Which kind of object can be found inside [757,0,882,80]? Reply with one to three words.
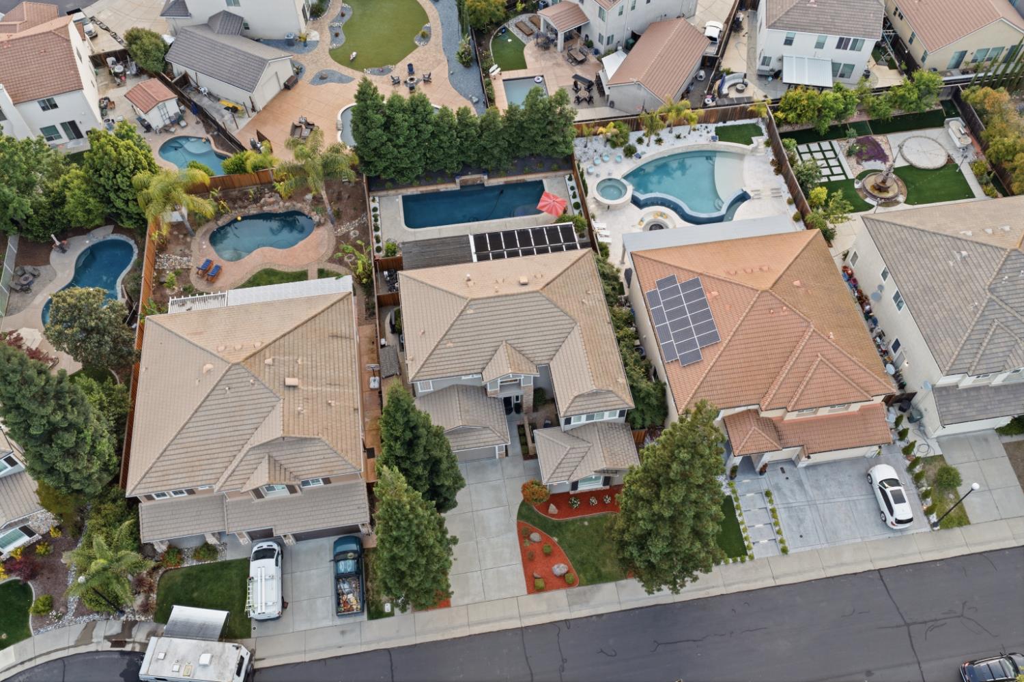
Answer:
house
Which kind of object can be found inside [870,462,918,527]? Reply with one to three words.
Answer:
car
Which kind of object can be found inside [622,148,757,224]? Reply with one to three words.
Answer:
swimming pool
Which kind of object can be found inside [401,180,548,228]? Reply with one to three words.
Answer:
swimming pool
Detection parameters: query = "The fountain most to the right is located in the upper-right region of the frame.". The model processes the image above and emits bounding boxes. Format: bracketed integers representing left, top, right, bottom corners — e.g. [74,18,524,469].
[865,161,905,202]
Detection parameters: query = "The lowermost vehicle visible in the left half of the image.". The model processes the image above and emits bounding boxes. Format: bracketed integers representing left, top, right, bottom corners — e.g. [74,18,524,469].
[140,605,258,682]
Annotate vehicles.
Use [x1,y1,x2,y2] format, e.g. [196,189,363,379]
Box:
[140,605,258,682]
[964,650,1024,682]
[327,533,365,621]
[69,0,98,36]
[239,538,282,624]
[870,462,918,527]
